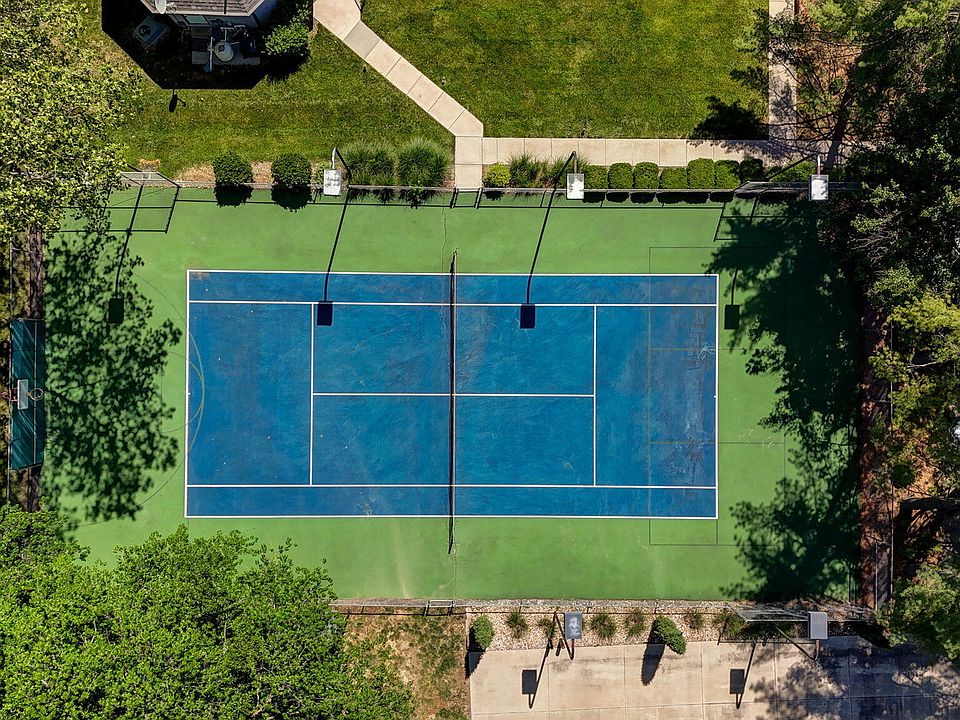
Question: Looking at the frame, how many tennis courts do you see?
1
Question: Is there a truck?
No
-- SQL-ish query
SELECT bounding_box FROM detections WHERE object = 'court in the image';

[40,189,862,602]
